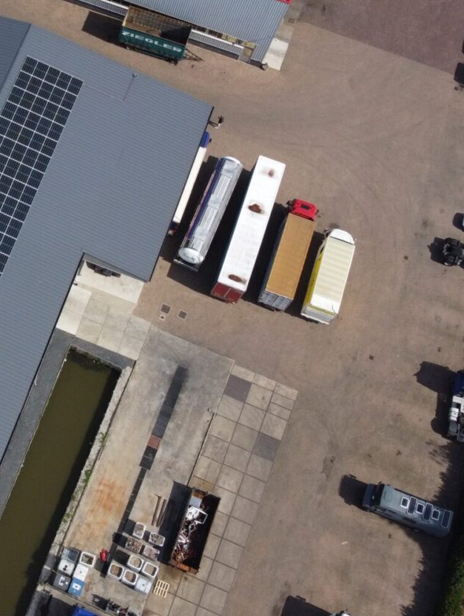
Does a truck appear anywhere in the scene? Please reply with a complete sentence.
Yes, there's a truck here.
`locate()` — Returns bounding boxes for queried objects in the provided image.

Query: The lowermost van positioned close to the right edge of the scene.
[361,481,461,530]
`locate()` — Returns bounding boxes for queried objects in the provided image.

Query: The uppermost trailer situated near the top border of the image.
[119,7,208,59]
